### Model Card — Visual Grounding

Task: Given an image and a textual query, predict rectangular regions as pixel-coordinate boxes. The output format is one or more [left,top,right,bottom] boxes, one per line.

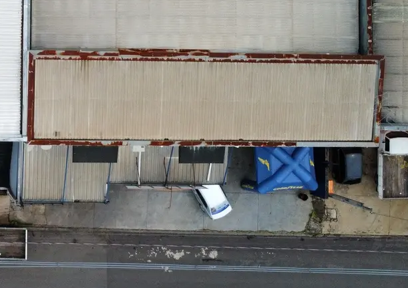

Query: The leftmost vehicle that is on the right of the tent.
[329,146,363,186]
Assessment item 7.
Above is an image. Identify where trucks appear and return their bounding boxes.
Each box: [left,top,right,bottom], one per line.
[0,227,27,261]
[373,127,408,200]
